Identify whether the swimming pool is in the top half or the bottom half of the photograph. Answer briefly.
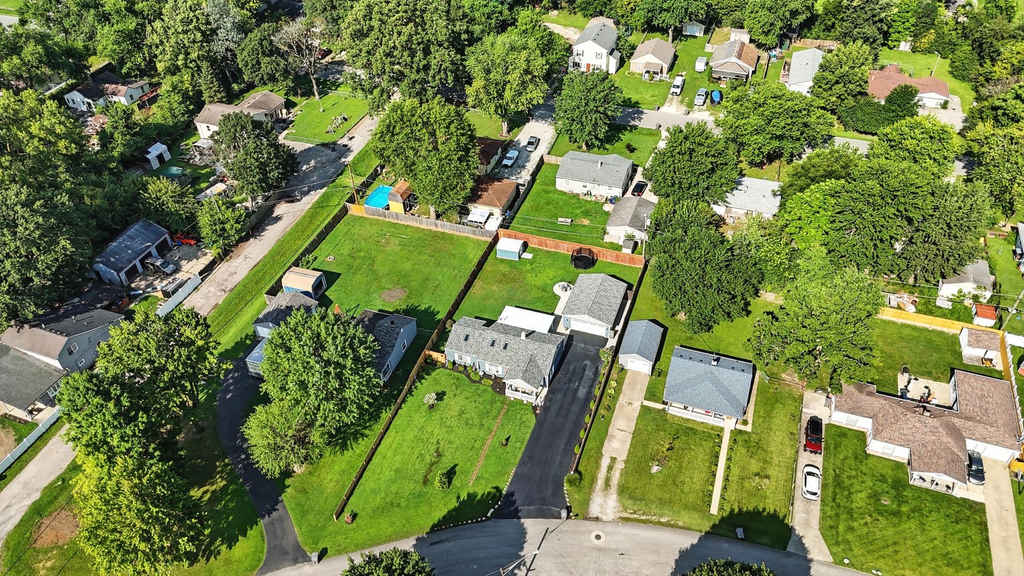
top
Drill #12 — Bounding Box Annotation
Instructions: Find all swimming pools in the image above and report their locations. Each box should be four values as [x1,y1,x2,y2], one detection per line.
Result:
[367,186,396,211]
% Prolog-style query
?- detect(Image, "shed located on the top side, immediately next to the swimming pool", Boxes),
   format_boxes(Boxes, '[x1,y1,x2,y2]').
[388,184,413,213]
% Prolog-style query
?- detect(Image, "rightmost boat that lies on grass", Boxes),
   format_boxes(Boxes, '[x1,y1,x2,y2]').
[709,89,722,107]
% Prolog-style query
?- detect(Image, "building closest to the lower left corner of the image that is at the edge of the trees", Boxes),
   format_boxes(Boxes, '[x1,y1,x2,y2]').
[0,346,74,421]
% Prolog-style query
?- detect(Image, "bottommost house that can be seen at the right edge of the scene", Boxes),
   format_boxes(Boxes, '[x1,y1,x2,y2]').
[832,371,1022,500]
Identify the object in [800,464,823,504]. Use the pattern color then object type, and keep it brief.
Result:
white car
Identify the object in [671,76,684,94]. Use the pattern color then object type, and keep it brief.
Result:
white vehicle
